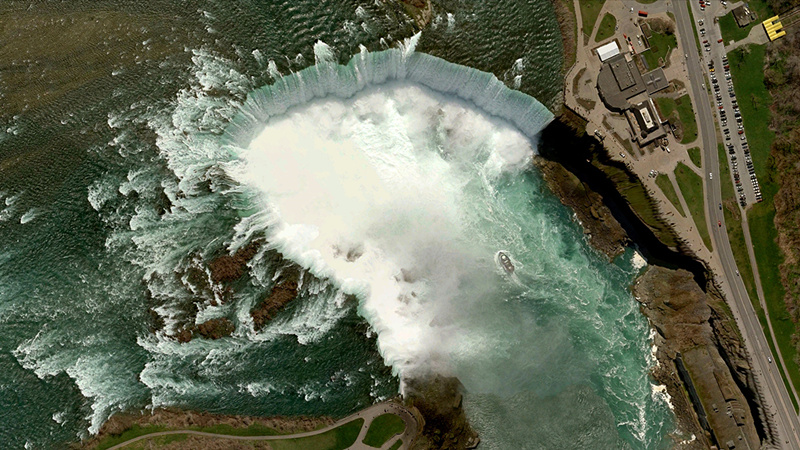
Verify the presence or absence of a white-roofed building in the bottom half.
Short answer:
No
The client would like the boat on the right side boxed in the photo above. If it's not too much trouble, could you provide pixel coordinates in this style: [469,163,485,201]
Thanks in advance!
[500,251,516,275]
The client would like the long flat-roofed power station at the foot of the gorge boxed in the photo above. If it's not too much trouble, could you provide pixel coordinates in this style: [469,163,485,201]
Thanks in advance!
[681,348,762,450]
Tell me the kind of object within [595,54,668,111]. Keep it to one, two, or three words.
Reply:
building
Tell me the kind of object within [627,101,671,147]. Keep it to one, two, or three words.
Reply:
house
